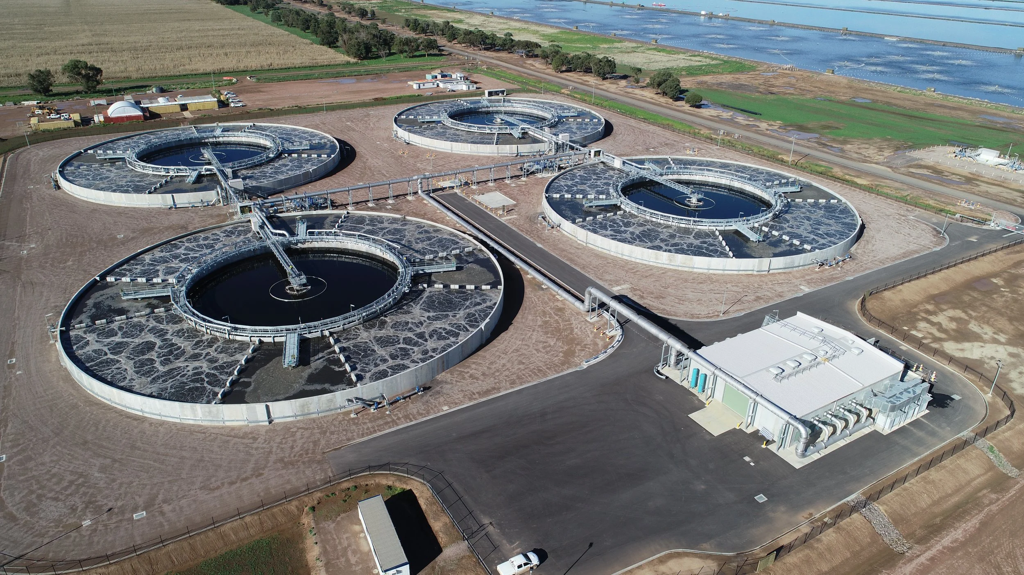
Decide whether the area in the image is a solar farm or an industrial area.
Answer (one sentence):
The picture captures an industrial area.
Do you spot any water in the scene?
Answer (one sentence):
Yes, water can be seen from above here.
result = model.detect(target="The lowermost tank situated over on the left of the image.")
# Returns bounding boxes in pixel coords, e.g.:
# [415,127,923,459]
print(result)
[58,212,504,425]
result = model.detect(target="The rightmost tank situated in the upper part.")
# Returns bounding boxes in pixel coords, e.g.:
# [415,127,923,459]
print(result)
[539,156,861,274]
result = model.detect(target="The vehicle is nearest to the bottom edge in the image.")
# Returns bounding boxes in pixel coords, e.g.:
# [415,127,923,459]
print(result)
[498,551,544,575]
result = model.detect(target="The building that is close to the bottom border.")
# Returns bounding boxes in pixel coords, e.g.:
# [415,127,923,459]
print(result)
[357,494,410,575]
